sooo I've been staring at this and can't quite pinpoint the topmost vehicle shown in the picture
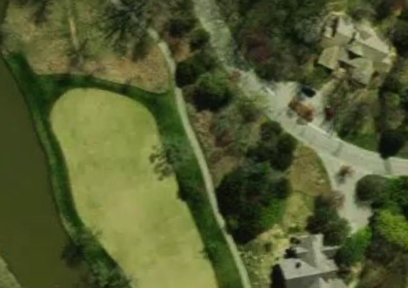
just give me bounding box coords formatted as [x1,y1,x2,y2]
[301,85,316,98]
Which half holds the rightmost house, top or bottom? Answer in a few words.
top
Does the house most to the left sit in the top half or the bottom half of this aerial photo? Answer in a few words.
bottom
